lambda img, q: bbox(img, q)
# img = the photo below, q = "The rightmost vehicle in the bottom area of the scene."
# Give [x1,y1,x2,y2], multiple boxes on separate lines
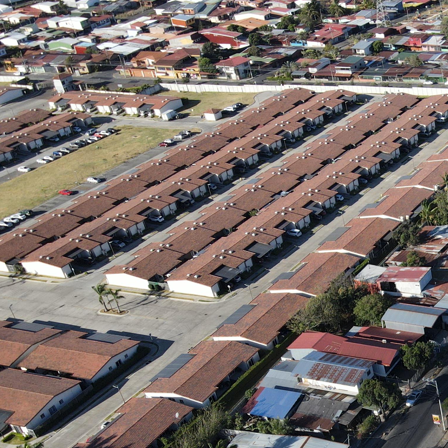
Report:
[405,388,423,403]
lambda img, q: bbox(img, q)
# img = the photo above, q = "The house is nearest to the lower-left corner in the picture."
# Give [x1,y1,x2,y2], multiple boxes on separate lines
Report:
[0,367,82,435]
